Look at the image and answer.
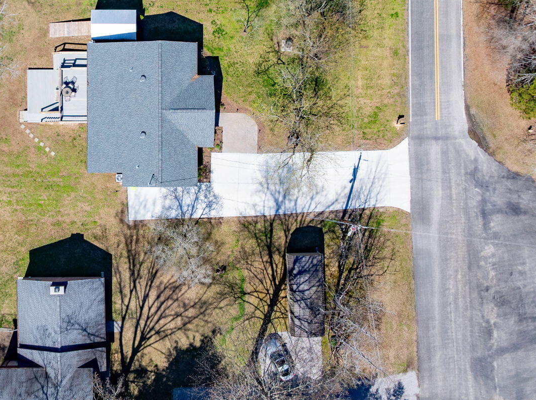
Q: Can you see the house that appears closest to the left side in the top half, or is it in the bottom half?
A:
bottom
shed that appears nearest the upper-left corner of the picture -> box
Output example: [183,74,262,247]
[91,10,136,41]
